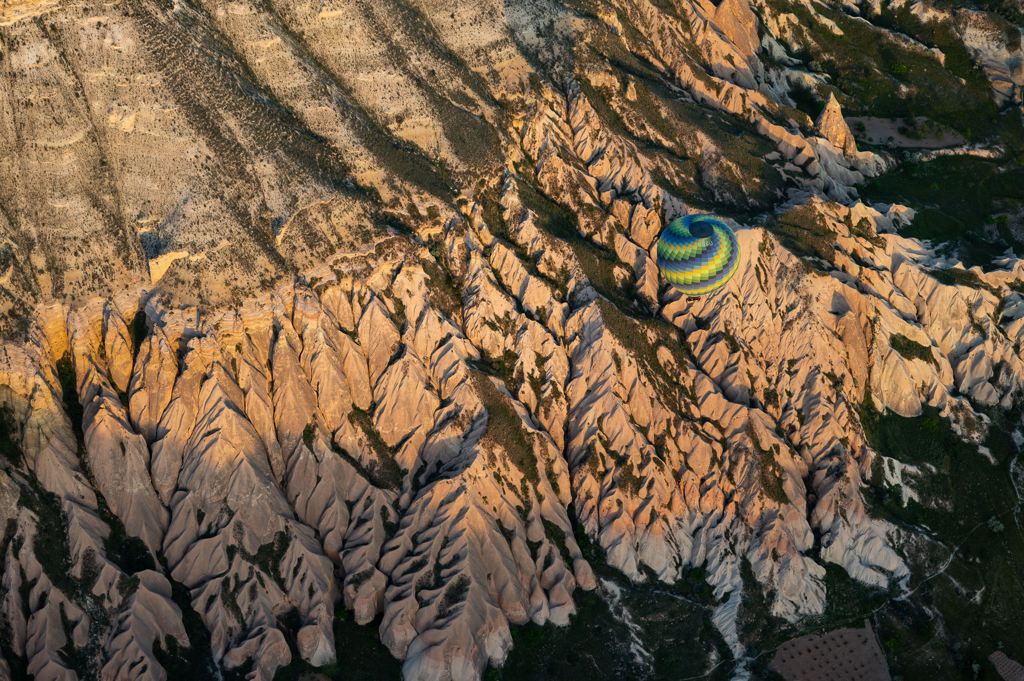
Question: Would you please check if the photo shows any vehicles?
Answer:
No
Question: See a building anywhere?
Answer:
No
